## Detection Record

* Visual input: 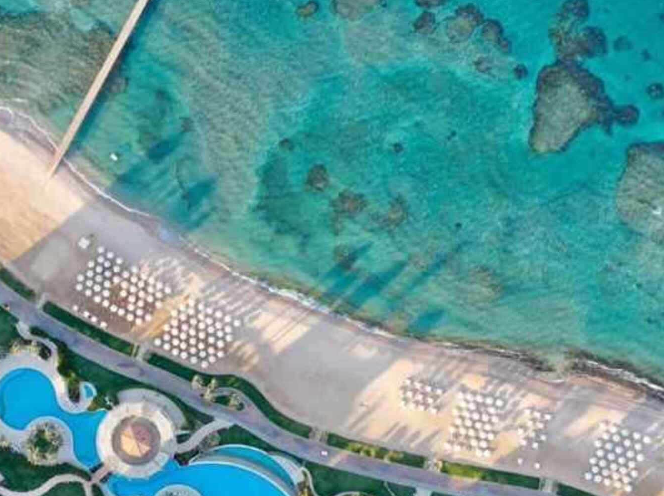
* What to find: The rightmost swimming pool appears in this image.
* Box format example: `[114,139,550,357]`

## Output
[204,444,298,493]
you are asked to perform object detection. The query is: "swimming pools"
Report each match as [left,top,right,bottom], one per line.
[83,382,95,400]
[0,366,108,468]
[109,459,284,496]
[204,444,298,493]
